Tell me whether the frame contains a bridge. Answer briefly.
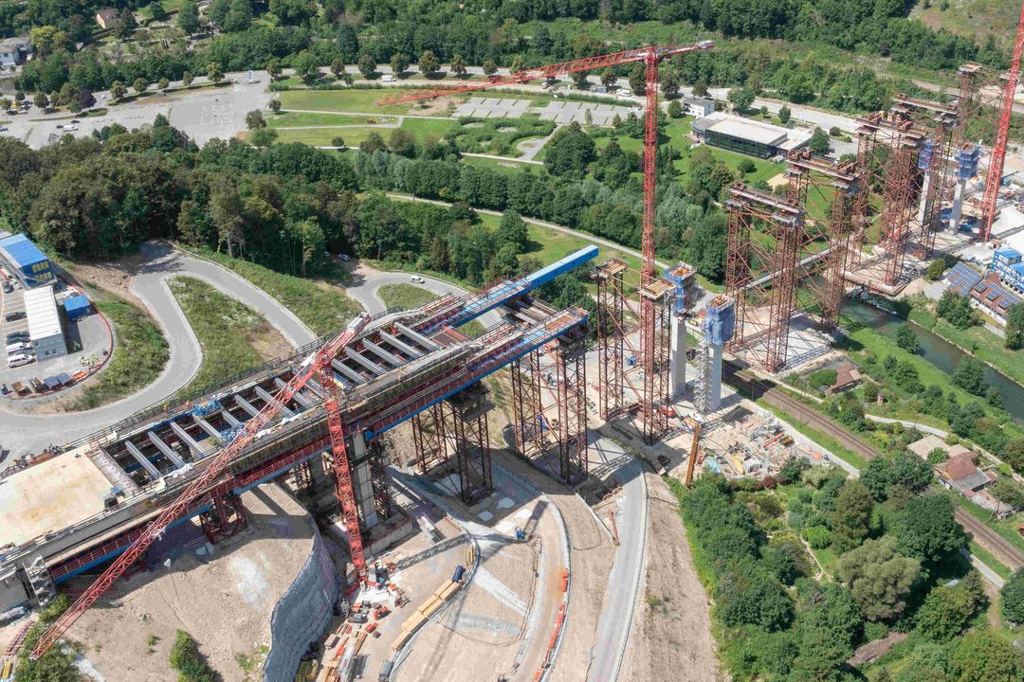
Yes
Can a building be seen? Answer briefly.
Yes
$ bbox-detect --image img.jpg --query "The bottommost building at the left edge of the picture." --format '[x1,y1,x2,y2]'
[31,281,71,360]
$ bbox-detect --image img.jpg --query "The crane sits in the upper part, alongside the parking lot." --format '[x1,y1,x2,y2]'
[381,40,715,425]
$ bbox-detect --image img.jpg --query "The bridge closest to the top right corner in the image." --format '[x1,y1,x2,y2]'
[844,256,952,303]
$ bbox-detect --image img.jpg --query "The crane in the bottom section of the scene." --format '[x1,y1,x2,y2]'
[27,310,375,661]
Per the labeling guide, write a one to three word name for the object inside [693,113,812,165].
building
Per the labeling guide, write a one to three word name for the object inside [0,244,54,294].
building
